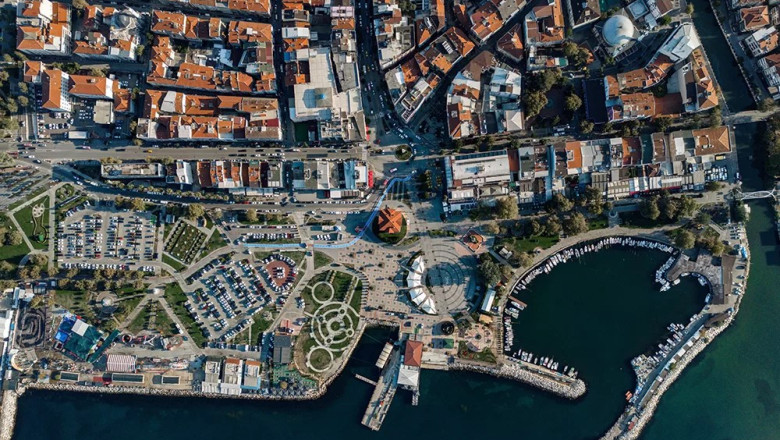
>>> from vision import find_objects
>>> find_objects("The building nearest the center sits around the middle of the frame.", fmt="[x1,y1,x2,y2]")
[378,209,404,234]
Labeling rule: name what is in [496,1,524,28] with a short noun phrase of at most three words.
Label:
building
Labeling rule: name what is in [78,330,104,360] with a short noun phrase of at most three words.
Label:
tent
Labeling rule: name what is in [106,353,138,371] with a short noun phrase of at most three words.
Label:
tent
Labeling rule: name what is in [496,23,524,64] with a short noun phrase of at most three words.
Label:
house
